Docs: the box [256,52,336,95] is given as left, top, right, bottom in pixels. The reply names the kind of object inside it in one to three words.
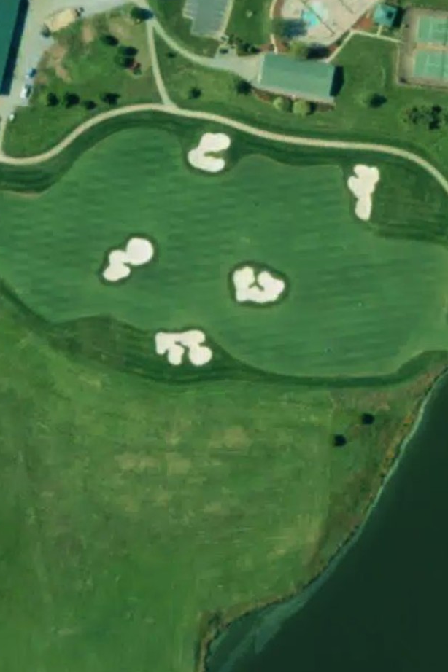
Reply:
building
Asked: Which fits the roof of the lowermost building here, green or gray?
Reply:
green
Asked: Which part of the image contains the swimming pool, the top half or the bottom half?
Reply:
top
